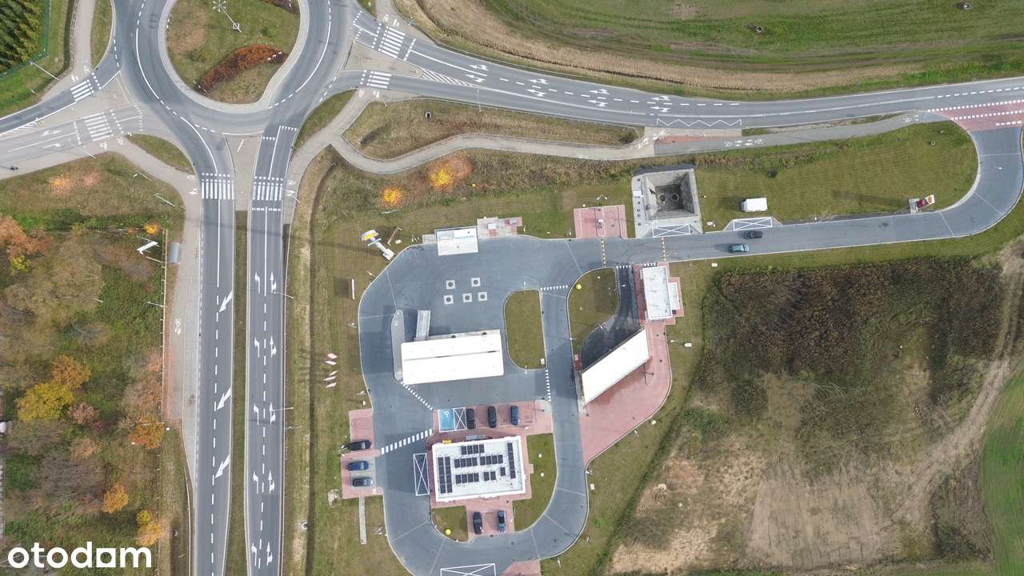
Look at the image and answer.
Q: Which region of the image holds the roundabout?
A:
top left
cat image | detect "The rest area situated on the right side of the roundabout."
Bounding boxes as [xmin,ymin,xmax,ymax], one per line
[340,111,1024,576]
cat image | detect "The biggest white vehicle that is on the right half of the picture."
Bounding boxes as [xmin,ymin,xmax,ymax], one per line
[741,198,767,212]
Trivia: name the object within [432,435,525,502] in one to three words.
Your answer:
building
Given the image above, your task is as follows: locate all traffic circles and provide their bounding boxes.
[101,0,362,181]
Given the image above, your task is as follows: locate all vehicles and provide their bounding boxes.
[487,405,498,429]
[346,460,370,471]
[352,476,374,487]
[472,510,483,535]
[741,198,767,212]
[465,407,476,429]
[496,509,507,533]
[729,243,750,253]
[349,440,373,451]
[510,405,520,426]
